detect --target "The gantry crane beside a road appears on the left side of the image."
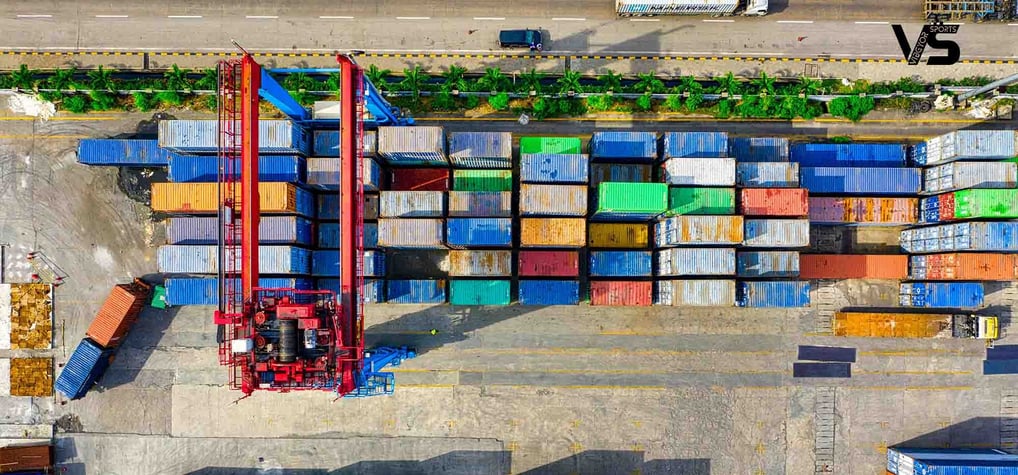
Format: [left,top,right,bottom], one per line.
[213,35,424,403]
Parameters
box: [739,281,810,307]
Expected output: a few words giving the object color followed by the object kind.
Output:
blue shipping container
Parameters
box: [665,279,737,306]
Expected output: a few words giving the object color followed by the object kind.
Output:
white shipping container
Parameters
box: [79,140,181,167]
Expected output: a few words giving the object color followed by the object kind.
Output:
blue shipping container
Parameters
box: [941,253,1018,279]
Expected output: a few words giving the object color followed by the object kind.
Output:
orange shipping container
